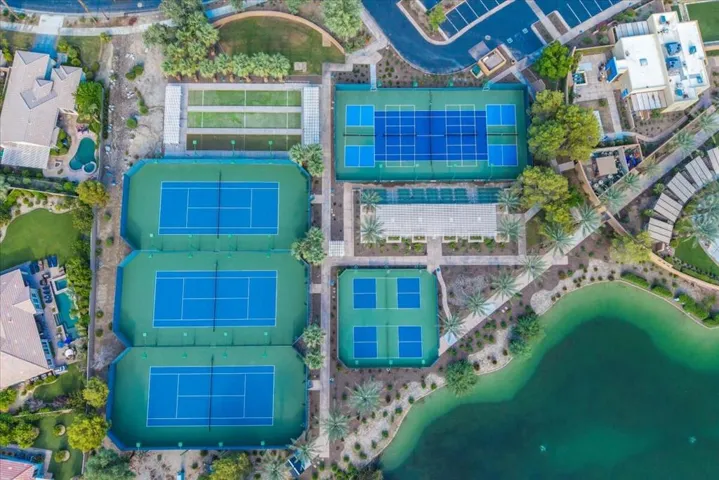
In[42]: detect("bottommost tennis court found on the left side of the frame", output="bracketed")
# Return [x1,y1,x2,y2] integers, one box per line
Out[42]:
[112,346,306,447]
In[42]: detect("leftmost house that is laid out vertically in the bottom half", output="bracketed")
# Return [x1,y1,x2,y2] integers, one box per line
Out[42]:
[0,269,57,391]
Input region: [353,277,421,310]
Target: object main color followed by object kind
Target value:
blue sports court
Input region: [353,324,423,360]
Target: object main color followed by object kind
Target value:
blue sports court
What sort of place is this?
sports ground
